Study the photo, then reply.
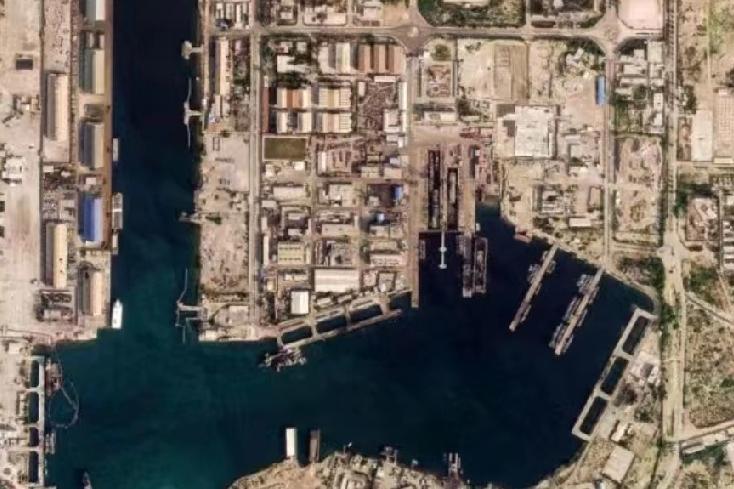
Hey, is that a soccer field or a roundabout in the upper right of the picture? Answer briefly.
roundabout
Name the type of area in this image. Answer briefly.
port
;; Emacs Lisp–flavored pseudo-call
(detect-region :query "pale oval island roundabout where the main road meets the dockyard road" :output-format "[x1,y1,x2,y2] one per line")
[388,10,435,54]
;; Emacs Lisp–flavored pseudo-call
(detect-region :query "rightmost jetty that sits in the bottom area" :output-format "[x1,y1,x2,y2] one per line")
[556,267,606,355]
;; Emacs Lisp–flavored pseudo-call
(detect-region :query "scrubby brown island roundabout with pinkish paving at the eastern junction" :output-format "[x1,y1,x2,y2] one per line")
[584,8,634,58]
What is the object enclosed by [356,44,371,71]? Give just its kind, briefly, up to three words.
building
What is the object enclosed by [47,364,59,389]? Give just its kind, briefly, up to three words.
ship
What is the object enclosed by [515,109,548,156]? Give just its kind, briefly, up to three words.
building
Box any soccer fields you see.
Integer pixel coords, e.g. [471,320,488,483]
[264,136,307,161]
